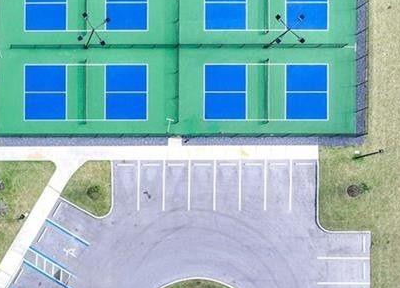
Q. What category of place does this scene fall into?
sports ground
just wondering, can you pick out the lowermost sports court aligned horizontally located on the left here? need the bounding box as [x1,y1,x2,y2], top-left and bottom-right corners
[0,48,179,136]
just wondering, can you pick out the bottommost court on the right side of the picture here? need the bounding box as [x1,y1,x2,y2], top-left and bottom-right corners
[179,48,357,136]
